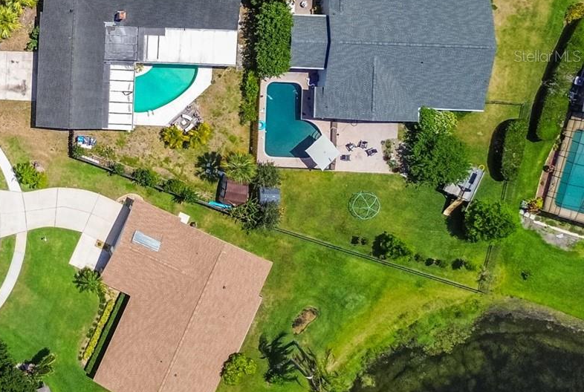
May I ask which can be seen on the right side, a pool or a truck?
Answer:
pool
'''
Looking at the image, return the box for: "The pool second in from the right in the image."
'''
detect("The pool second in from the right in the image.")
[264,78,326,160]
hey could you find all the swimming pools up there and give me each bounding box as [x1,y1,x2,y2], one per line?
[264,78,326,160]
[132,64,202,117]
[551,118,584,217]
